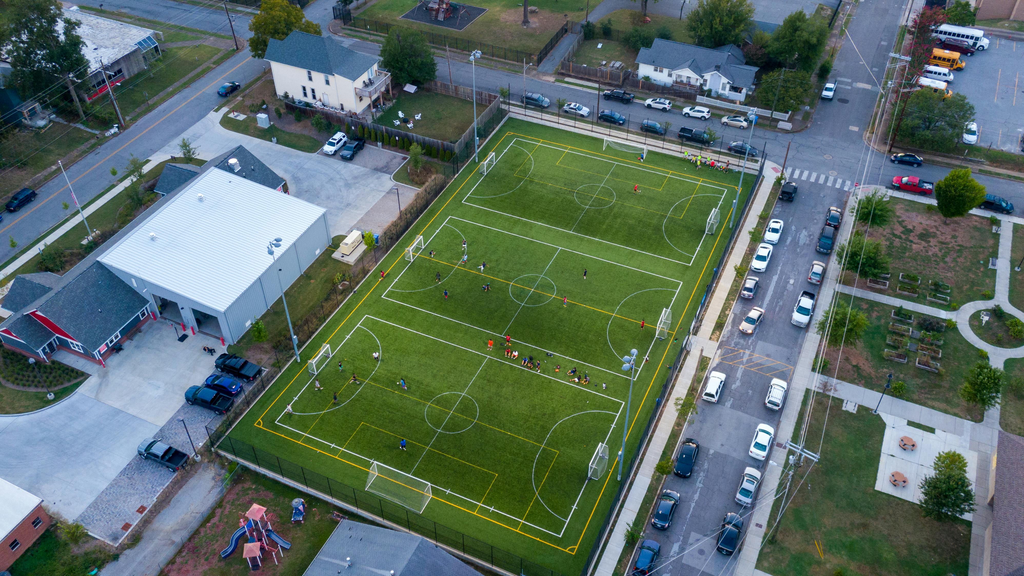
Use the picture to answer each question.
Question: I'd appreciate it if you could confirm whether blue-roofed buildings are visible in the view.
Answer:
Yes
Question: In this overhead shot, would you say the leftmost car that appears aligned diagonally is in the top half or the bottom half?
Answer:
top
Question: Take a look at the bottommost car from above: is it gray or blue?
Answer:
blue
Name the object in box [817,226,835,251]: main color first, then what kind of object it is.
blue car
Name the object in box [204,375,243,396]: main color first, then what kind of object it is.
blue car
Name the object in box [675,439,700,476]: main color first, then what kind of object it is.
black car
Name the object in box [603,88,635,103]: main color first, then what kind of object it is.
black vehicle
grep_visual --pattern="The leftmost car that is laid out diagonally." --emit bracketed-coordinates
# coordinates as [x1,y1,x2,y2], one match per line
[6,188,36,210]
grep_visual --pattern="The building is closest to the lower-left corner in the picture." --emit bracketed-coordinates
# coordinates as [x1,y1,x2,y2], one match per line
[0,480,49,571]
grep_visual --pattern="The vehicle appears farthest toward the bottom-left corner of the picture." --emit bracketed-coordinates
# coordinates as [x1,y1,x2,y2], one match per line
[138,440,187,468]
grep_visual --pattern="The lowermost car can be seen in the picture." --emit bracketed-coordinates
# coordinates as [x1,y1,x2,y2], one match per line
[633,537,660,576]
